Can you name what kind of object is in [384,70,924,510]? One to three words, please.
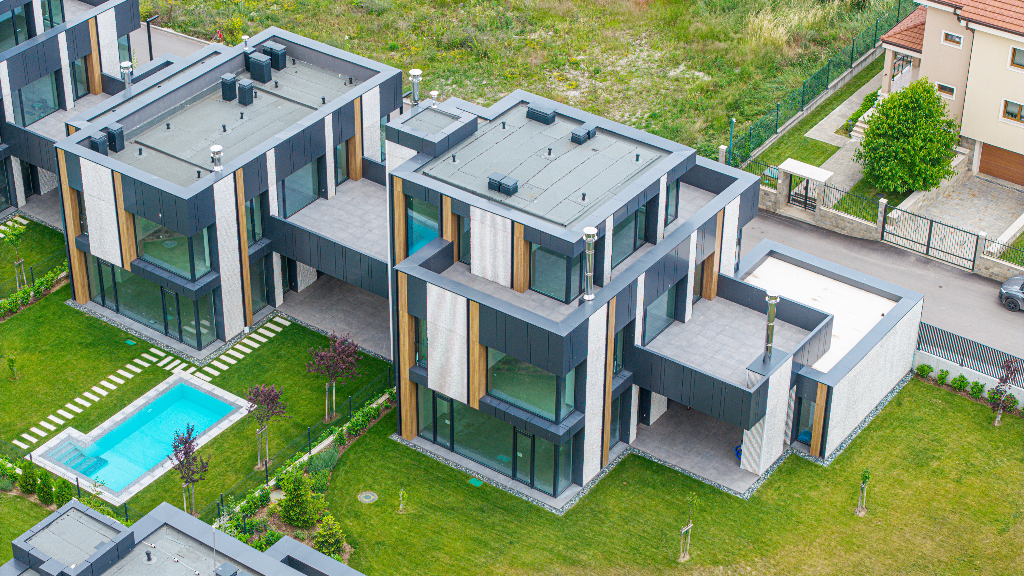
house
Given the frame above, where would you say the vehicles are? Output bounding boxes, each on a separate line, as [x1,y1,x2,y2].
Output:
[993,272,1024,311]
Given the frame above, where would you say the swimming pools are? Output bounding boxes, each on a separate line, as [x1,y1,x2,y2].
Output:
[25,369,254,506]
